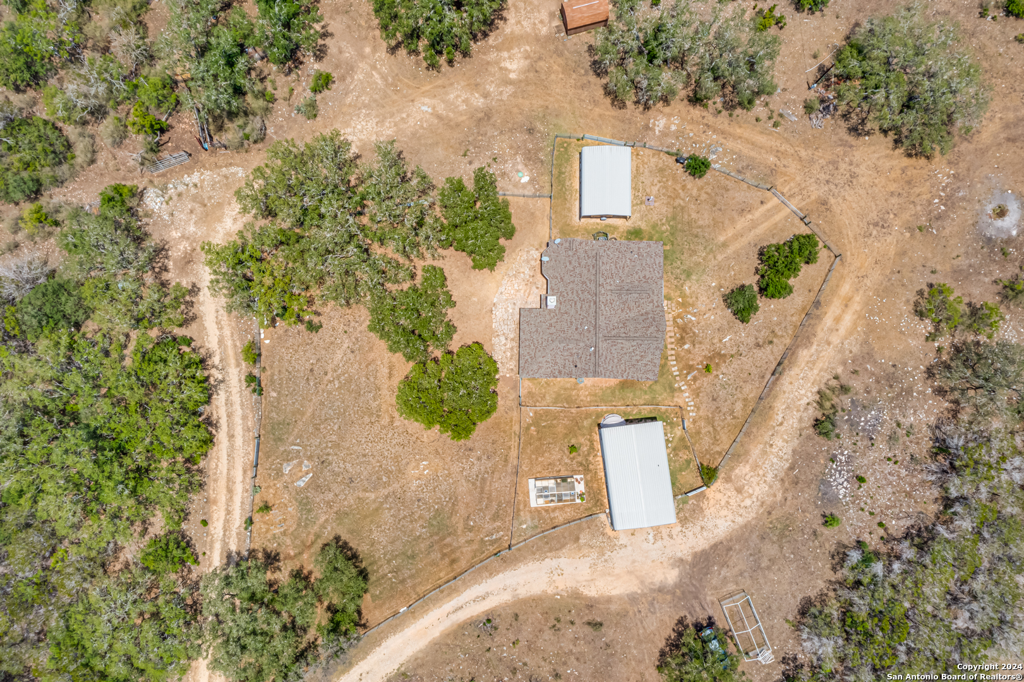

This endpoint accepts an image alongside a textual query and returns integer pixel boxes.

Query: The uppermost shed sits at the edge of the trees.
[560,0,609,36]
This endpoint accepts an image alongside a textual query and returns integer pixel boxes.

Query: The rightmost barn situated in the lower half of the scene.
[597,418,676,531]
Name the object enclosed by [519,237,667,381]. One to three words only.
house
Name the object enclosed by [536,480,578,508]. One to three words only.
greenhouse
